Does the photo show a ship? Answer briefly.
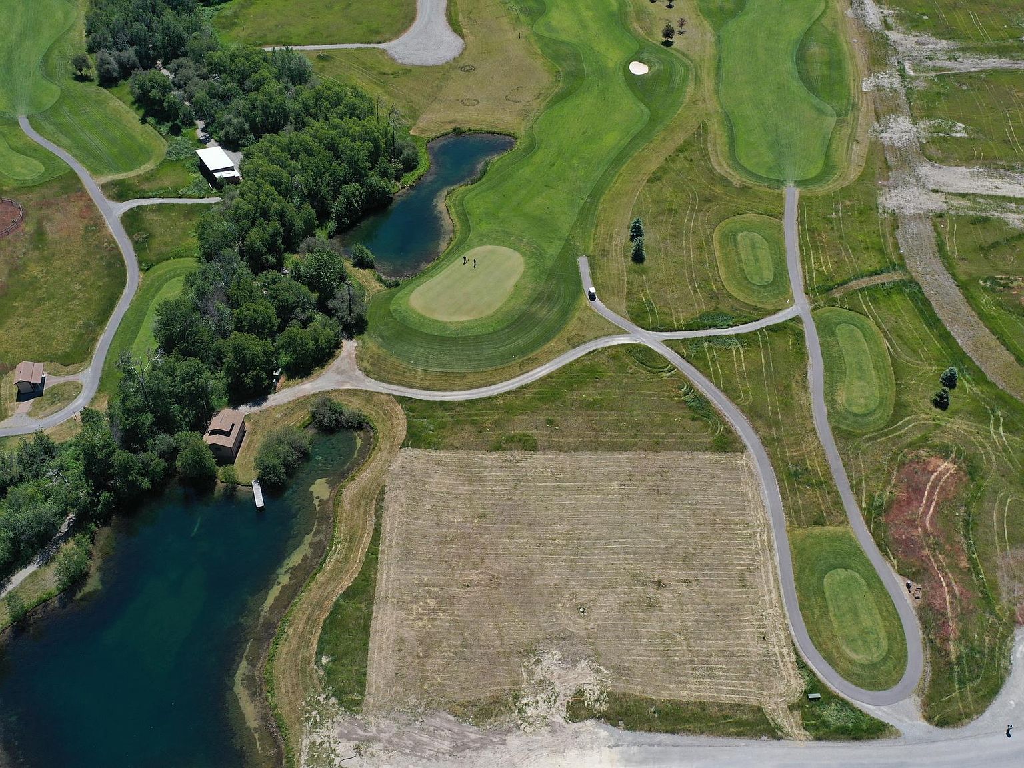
No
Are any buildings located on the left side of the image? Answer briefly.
Yes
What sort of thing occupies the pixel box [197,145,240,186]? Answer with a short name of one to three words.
shed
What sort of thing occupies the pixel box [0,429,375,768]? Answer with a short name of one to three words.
pond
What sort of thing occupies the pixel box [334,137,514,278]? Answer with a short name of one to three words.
pond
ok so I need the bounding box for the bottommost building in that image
[203,412,254,459]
